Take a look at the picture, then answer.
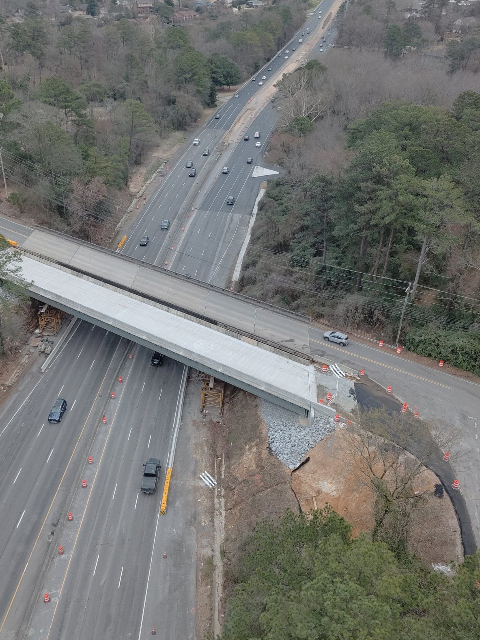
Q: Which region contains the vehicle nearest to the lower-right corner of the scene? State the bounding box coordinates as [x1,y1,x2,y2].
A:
[323,331,351,346]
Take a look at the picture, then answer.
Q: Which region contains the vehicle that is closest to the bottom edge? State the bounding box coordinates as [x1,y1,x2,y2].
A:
[141,458,160,492]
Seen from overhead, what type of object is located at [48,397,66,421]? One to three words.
car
